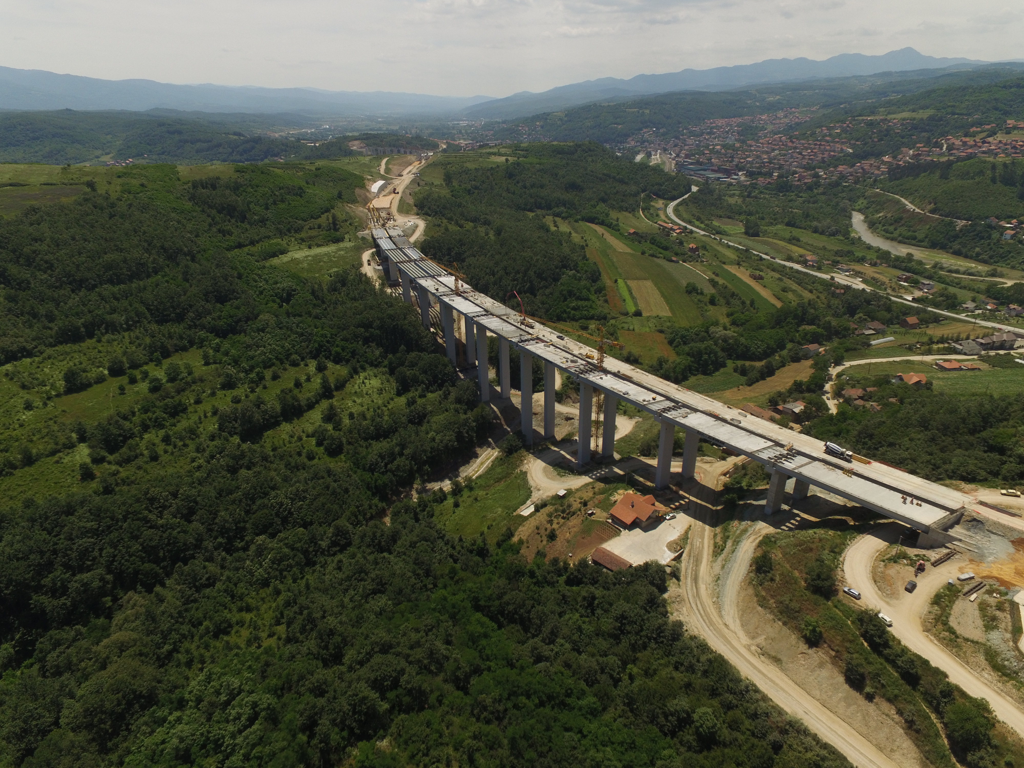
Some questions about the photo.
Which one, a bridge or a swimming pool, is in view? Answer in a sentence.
The one in the frame is a bridge.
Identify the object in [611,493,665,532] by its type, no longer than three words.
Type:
house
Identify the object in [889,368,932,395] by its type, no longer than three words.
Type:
house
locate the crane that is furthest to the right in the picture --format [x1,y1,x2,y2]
[517,310,625,464]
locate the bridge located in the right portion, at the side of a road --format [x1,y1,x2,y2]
[370,228,976,556]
